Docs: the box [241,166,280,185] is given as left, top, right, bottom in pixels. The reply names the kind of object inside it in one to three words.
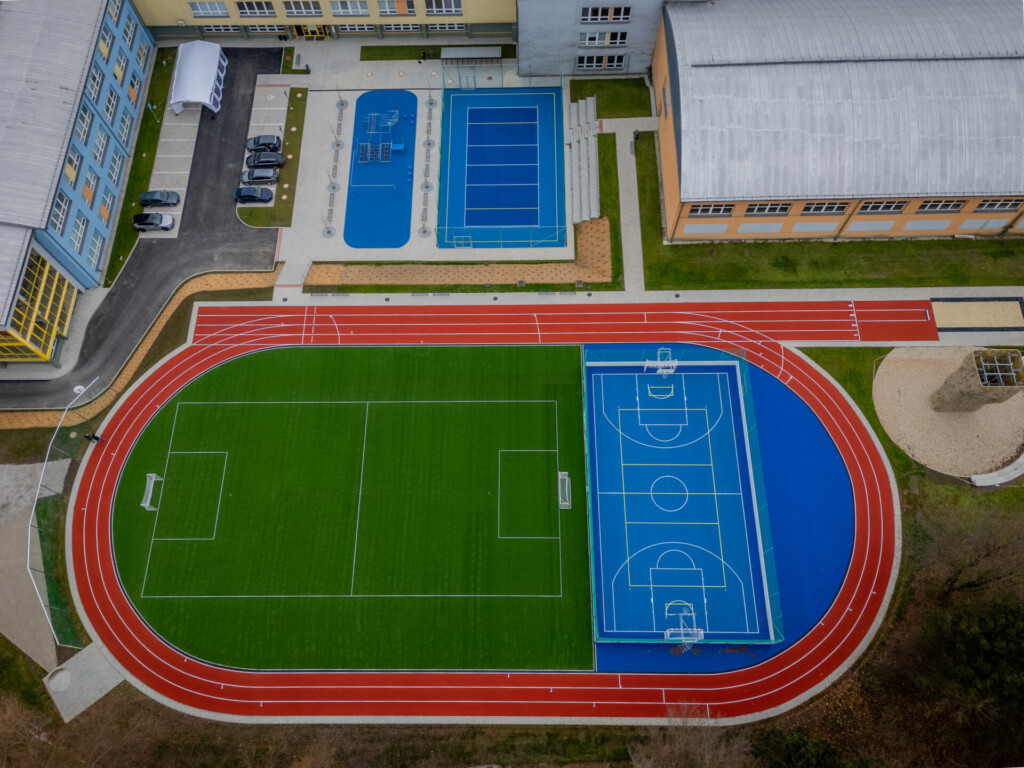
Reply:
car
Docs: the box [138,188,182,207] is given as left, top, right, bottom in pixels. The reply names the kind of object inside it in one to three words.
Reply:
car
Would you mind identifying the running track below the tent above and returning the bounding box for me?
[65,301,939,726]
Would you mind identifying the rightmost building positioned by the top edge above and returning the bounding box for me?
[652,0,1024,242]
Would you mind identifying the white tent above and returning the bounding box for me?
[169,38,232,116]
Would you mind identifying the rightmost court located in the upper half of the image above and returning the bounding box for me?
[437,87,565,248]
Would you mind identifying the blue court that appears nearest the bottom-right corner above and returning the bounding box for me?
[587,366,771,641]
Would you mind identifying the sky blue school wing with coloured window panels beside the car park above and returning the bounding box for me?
[0,0,156,286]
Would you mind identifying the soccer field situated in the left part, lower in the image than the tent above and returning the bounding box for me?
[111,344,596,670]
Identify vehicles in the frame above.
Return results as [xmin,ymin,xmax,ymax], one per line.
[246,150,286,168]
[246,134,282,152]
[138,188,182,207]
[232,185,273,203]
[131,211,176,231]
[241,166,280,185]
